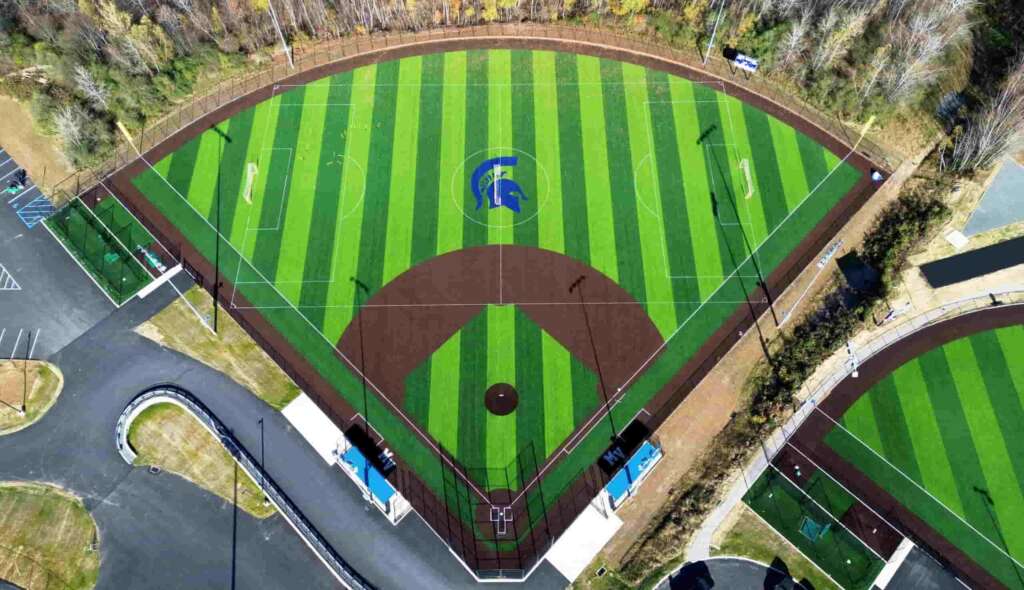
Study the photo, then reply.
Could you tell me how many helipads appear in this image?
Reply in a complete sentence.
There are no helipads in the image.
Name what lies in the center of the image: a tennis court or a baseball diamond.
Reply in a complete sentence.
There is a baseball diamond in the center of the image.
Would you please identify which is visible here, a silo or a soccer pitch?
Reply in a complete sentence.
It is a soccer pitch that can be seen here.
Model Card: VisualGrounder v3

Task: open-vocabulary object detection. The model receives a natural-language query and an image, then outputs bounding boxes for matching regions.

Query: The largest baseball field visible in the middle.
[105,37,889,579]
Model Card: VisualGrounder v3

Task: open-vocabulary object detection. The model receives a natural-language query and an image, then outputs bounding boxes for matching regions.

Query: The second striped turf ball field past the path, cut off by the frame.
[789,305,1024,590]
